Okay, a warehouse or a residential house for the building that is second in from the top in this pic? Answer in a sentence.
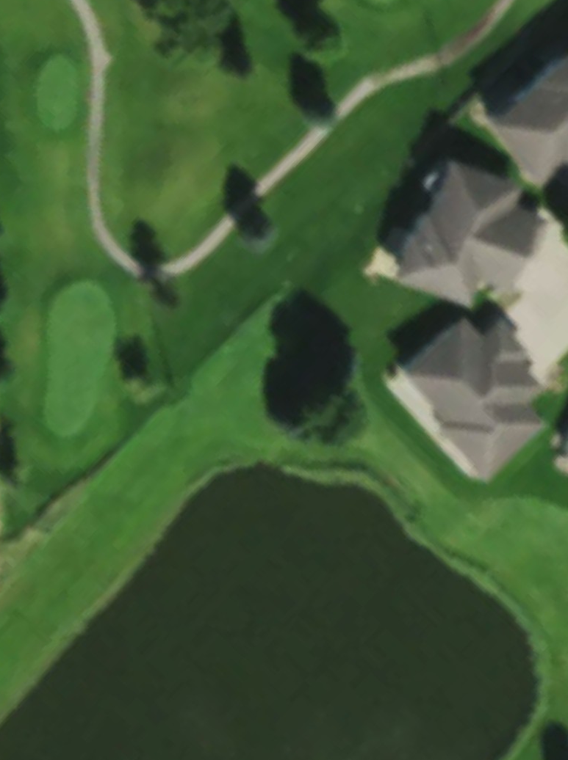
I'd identify the building that is second in from the top as a residential house.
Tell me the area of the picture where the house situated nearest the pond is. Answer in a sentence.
The house situated nearest the pond appears toward the right of the photo.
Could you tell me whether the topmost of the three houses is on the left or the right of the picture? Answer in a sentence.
The topmost of the three houses appears in the right half of the scene.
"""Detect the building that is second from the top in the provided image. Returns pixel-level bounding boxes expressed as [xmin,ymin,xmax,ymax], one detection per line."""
[398,162,543,306]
